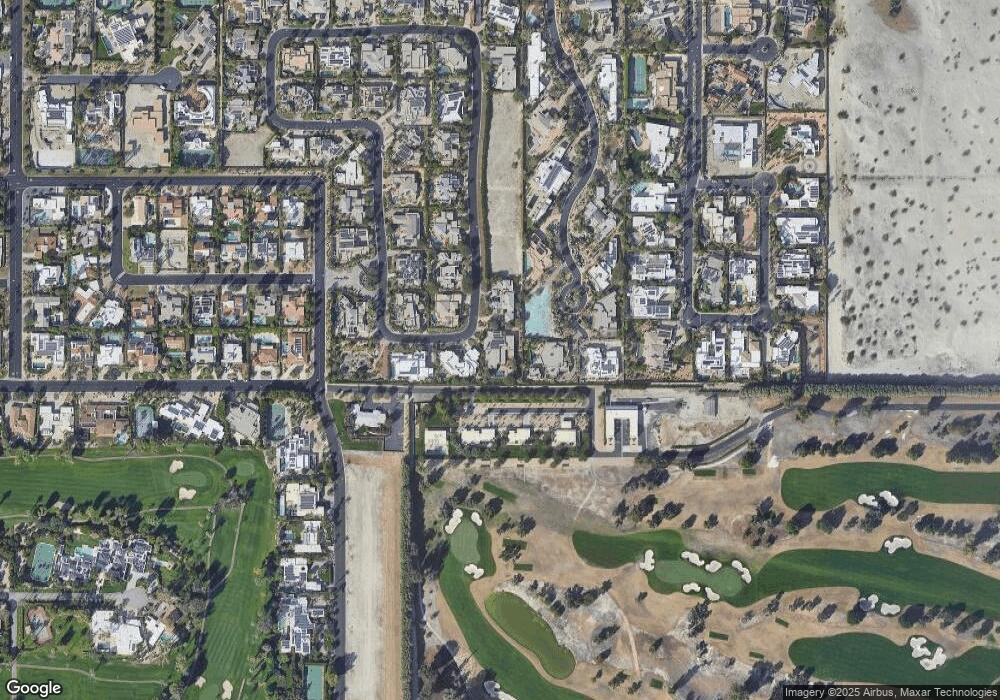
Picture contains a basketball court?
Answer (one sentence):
No, no basketball court is visible in the scene.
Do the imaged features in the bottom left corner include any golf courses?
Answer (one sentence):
Yes, a golf course can be seen in the bottom left corner.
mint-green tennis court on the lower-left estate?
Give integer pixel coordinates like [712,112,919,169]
[30,543,57,582]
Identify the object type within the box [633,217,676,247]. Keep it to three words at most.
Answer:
house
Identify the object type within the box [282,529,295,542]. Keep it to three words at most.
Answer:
swimming pool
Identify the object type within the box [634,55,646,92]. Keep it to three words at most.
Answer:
tennis court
